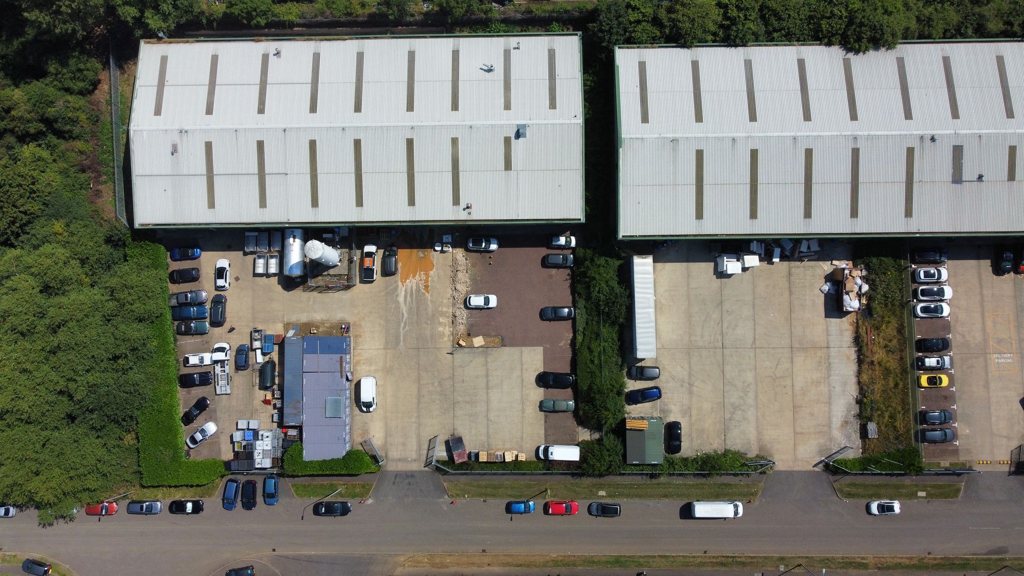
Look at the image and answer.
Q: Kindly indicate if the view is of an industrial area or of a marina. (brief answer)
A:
industrial area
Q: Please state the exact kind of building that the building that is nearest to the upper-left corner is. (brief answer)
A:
warehouse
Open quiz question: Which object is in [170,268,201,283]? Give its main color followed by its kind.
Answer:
black car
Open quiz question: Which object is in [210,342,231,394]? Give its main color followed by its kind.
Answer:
white truck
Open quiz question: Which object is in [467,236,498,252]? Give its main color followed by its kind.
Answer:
black car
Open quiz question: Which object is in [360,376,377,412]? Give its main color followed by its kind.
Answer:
white vehicle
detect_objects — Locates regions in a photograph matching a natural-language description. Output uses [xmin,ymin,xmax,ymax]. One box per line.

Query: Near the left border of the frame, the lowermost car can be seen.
[22,556,54,576]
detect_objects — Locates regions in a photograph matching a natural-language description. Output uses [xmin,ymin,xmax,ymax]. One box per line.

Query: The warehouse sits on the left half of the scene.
[128,32,586,234]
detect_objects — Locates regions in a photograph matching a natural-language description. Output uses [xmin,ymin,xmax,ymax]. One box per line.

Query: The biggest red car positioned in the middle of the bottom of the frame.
[545,500,579,516]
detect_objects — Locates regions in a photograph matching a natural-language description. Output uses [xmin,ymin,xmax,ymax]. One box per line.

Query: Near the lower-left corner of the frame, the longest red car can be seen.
[86,500,120,517]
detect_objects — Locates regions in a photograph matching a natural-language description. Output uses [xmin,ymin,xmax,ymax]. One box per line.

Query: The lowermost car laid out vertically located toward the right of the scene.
[667,421,683,455]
